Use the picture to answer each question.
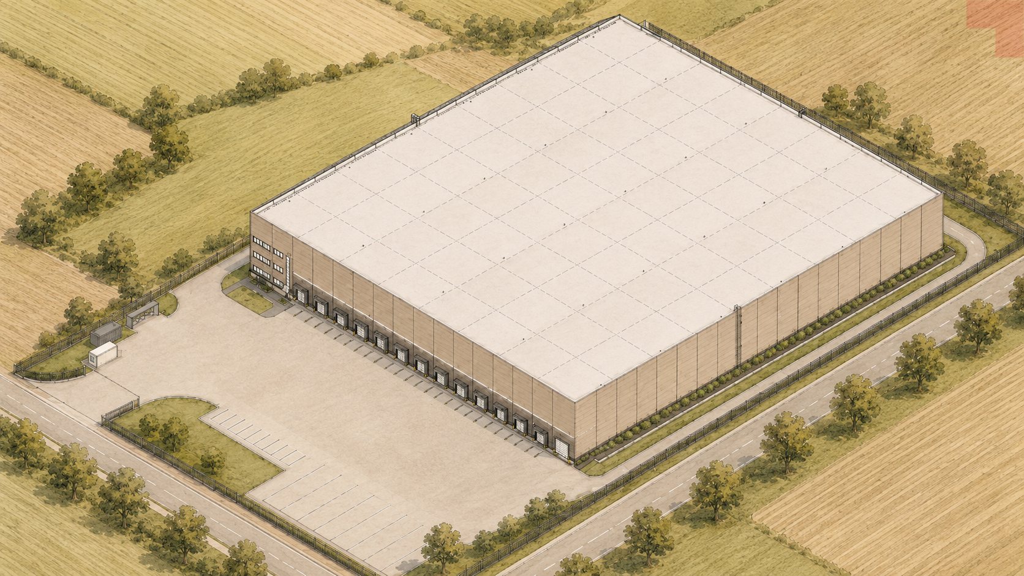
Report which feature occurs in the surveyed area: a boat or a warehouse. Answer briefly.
warehouse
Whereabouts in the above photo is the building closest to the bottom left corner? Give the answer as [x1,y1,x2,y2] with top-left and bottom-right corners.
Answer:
[88,339,118,367]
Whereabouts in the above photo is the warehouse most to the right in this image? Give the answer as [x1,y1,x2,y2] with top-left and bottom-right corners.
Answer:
[248,11,943,461]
